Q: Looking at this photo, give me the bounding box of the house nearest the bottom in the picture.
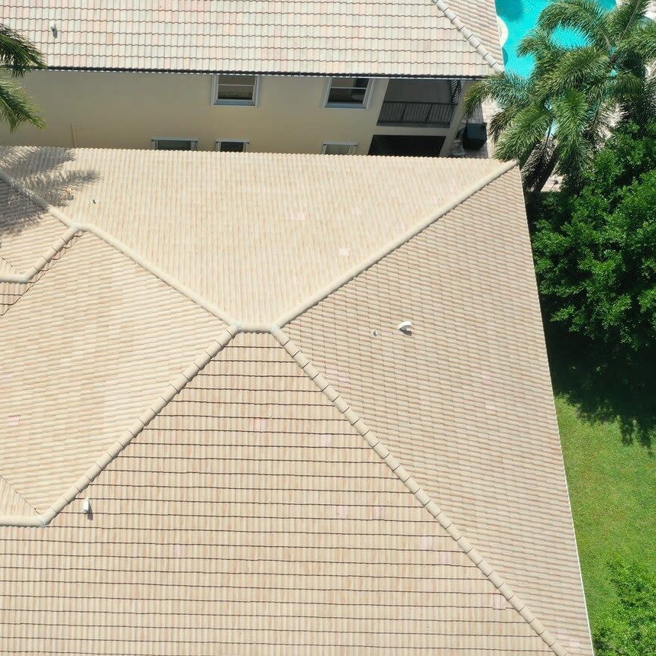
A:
[0,143,594,656]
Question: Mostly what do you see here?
buildings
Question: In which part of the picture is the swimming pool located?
top right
